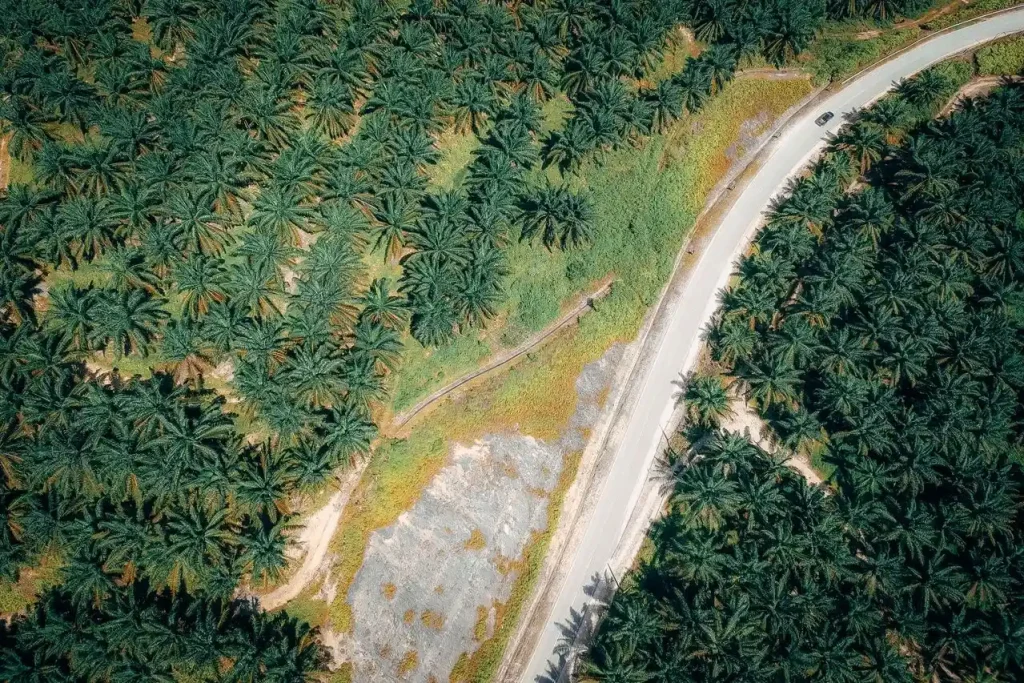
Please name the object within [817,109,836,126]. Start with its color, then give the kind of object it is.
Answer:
gray car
